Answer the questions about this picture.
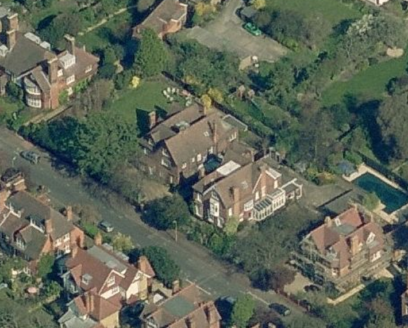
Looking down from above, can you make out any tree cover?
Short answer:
Yes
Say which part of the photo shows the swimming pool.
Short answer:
right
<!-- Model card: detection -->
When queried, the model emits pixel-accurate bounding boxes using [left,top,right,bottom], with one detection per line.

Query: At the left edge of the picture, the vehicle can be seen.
[20,149,40,162]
